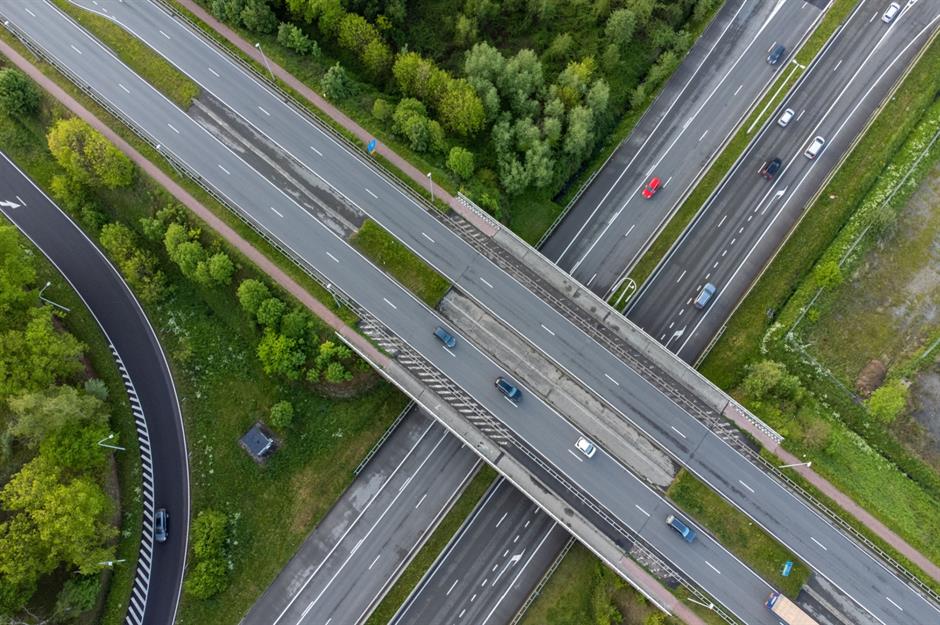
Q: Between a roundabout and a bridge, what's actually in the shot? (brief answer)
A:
bridge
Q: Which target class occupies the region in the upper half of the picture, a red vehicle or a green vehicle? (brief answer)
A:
red vehicle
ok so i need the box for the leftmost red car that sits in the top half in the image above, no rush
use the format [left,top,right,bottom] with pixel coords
[642,176,663,200]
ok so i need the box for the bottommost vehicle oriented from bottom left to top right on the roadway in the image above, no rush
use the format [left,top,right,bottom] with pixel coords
[692,283,717,310]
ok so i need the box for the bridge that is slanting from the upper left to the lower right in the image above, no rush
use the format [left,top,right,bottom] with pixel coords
[334,192,785,616]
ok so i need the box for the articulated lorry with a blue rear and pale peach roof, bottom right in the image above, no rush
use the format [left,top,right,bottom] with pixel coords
[758,589,822,625]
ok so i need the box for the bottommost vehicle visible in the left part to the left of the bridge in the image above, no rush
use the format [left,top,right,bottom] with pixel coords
[151,508,172,542]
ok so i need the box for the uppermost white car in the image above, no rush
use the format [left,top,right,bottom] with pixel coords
[880,3,900,24]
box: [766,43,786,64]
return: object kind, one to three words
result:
car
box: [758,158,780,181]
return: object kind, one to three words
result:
car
